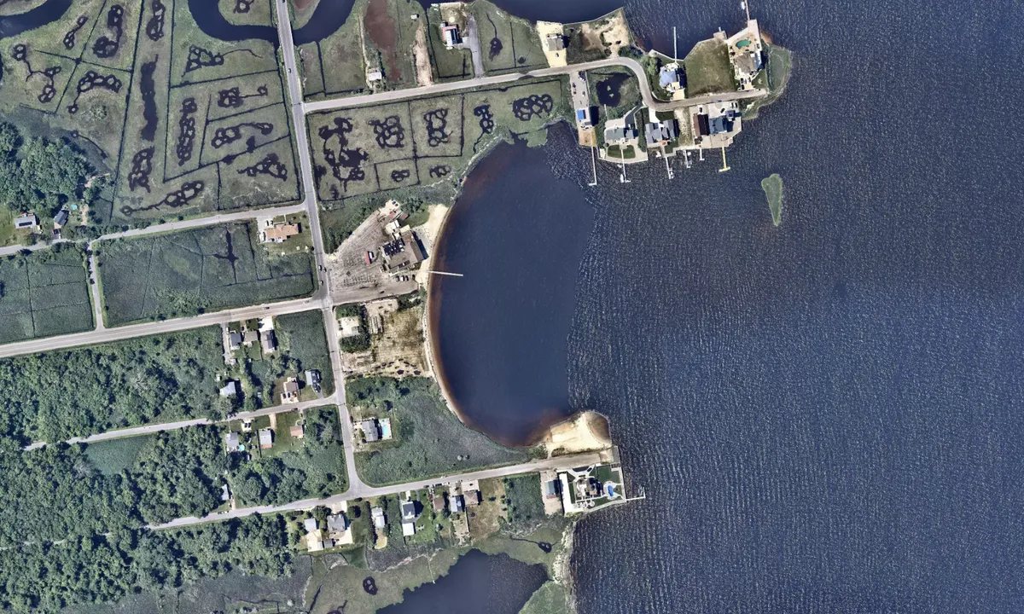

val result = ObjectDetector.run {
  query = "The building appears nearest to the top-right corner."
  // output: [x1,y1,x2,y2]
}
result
[736,50,763,71]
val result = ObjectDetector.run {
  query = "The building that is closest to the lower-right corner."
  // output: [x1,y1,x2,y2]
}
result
[577,476,602,498]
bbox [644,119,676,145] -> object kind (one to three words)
house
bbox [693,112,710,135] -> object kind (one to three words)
house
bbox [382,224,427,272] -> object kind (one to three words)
building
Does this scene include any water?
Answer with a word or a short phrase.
Yes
